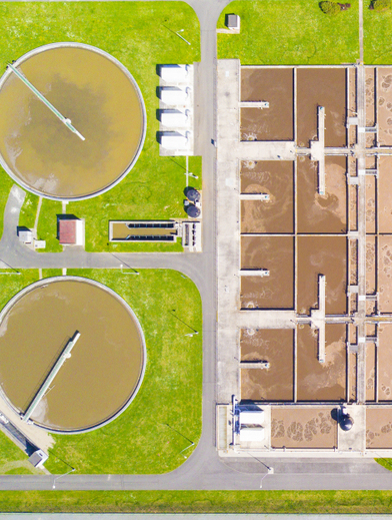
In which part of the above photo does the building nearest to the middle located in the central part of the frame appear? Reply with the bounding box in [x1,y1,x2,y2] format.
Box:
[183,222,202,251]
